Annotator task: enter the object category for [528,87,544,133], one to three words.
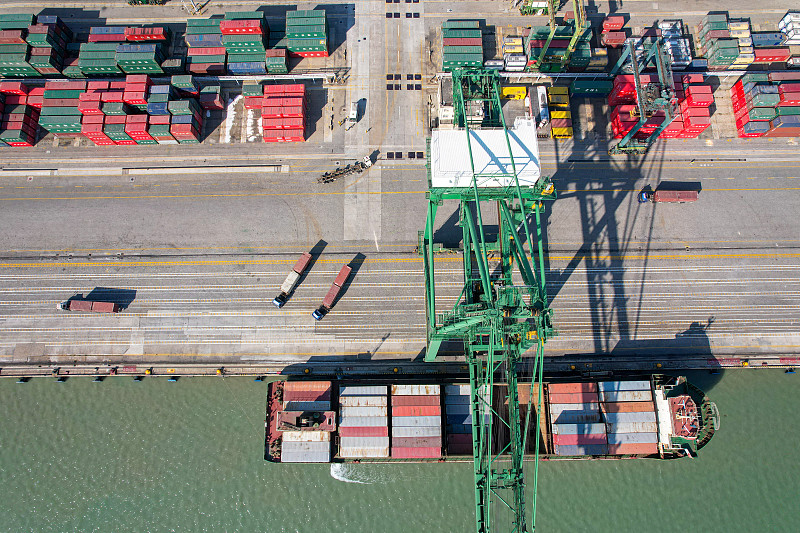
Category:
vehicle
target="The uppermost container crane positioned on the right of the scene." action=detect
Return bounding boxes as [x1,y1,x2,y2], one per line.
[524,0,587,73]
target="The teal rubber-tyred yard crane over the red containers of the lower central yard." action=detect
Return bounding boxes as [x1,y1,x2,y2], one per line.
[603,32,688,154]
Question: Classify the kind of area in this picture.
port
